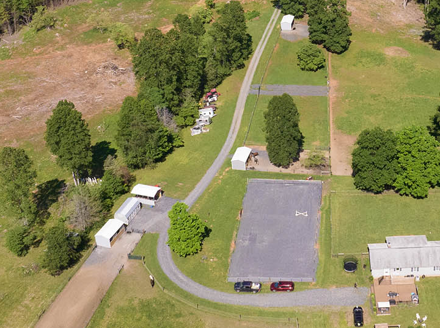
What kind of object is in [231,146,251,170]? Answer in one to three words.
shed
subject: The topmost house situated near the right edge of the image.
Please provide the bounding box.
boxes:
[370,231,440,278]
